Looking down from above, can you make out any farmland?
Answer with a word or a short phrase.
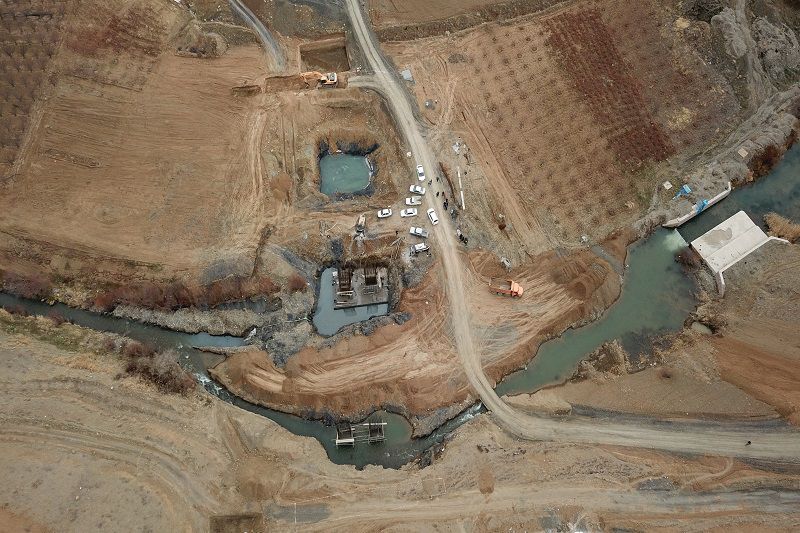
Yes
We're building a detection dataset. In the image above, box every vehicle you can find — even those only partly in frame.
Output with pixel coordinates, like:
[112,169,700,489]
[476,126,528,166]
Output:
[405,196,423,205]
[409,185,424,195]
[401,208,416,216]
[491,277,526,297]
[377,209,392,217]
[417,166,425,179]
[301,69,339,88]
[411,244,428,254]
[428,210,438,223]
[410,227,428,238]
